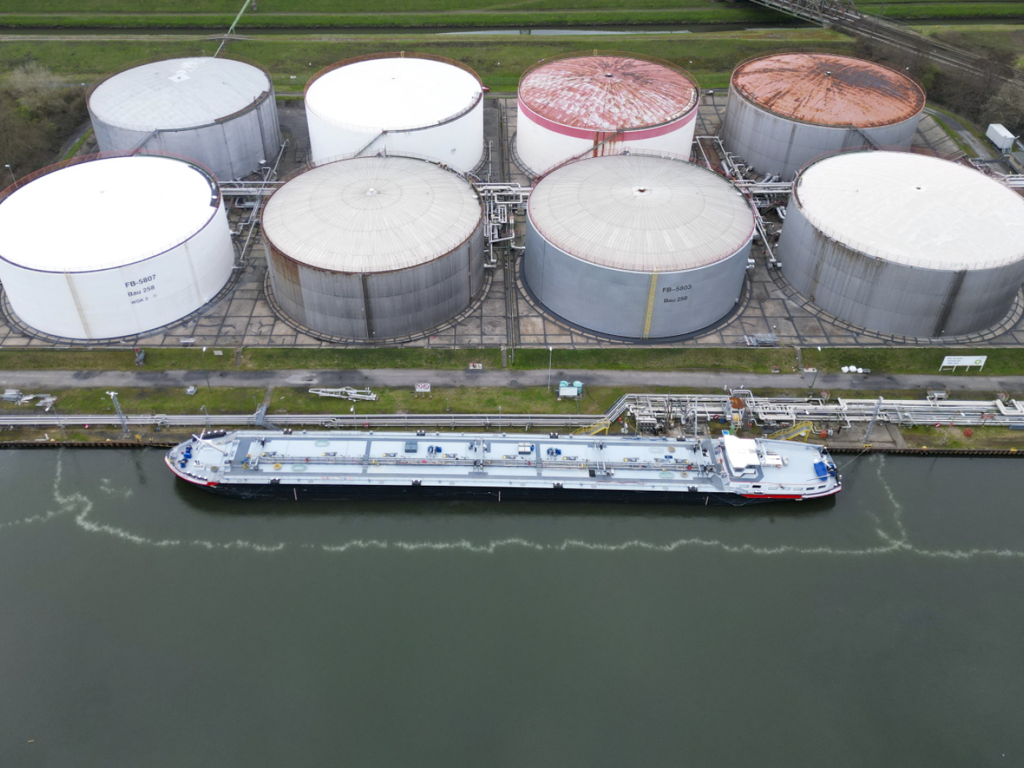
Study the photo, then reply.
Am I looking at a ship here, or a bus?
ship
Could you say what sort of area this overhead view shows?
industrial area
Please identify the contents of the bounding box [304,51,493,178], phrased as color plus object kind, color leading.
white storage tank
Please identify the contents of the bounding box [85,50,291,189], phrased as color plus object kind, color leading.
white storage tank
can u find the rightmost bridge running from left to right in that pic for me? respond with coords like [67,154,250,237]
[748,0,865,32]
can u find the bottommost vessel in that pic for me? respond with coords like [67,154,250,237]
[165,429,844,510]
